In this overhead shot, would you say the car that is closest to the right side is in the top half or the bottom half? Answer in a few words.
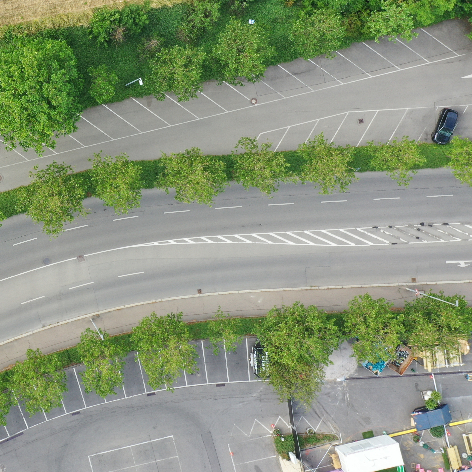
top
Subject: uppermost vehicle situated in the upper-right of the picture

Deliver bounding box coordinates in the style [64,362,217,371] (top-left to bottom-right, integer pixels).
[429,106,460,145]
